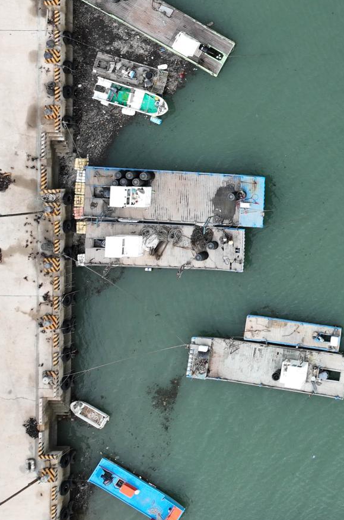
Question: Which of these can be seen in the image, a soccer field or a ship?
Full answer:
This aerial view contains a ship.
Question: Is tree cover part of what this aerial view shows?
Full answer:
No, no tree cover is visible.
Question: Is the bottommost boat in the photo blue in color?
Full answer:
Yes, the bottommost boat appears blue.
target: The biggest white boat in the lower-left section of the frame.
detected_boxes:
[69,400,110,428]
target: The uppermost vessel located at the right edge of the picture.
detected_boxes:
[244,315,343,352]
